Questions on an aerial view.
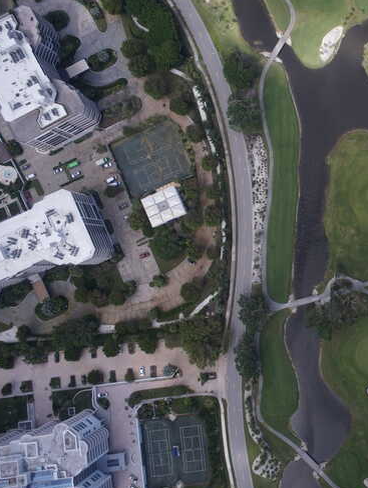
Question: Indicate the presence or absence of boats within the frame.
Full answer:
No, there appears to be no boat in this shot.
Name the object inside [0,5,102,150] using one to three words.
building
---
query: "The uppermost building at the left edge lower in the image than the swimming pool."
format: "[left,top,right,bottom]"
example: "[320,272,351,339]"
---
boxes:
[0,188,112,291]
